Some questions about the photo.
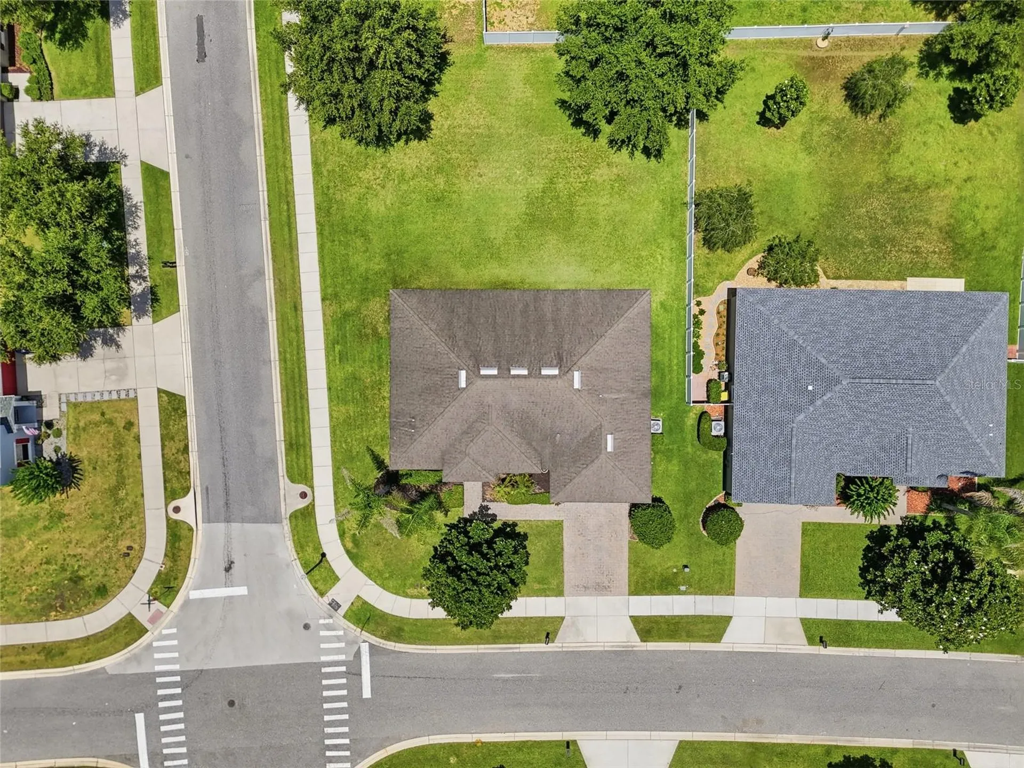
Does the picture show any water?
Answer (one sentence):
No, water can't be seen anywhere here.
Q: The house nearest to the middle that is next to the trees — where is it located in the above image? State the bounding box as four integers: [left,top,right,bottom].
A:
[389,288,652,504]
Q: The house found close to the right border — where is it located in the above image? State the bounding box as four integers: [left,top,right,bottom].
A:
[727,288,1009,505]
